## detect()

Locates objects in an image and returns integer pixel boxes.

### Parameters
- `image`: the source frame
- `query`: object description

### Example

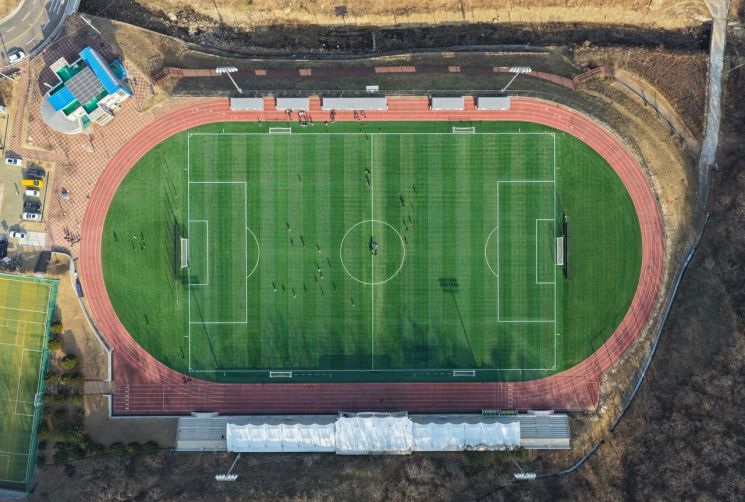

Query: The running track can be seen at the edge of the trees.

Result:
[80,97,664,415]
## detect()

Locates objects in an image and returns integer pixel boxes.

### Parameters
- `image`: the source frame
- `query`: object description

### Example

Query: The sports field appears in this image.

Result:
[102,122,642,383]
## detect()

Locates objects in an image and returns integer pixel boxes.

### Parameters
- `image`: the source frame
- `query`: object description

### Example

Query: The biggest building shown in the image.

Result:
[40,44,142,135]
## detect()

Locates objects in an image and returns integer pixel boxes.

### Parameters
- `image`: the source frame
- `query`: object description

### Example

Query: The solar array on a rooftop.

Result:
[64,65,104,106]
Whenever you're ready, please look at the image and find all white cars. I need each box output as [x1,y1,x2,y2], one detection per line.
[25,189,41,196]
[23,212,41,220]
[6,156,23,164]
[8,51,27,63]
[10,231,27,239]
